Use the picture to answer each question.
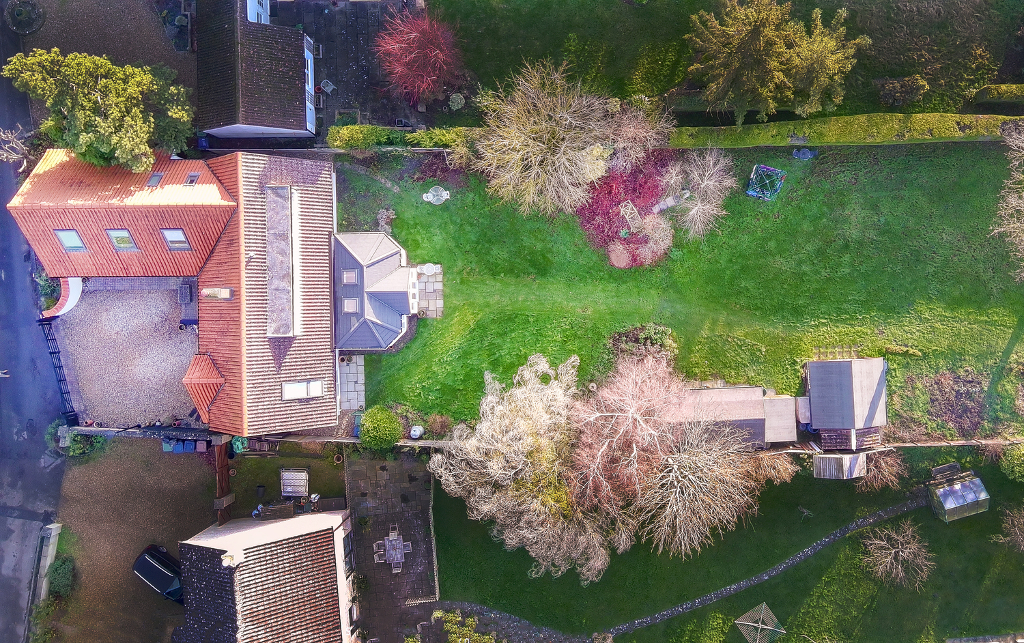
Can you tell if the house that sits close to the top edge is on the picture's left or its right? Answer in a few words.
left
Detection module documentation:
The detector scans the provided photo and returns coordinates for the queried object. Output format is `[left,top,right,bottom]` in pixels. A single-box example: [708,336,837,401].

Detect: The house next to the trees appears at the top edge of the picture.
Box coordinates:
[195,0,321,144]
